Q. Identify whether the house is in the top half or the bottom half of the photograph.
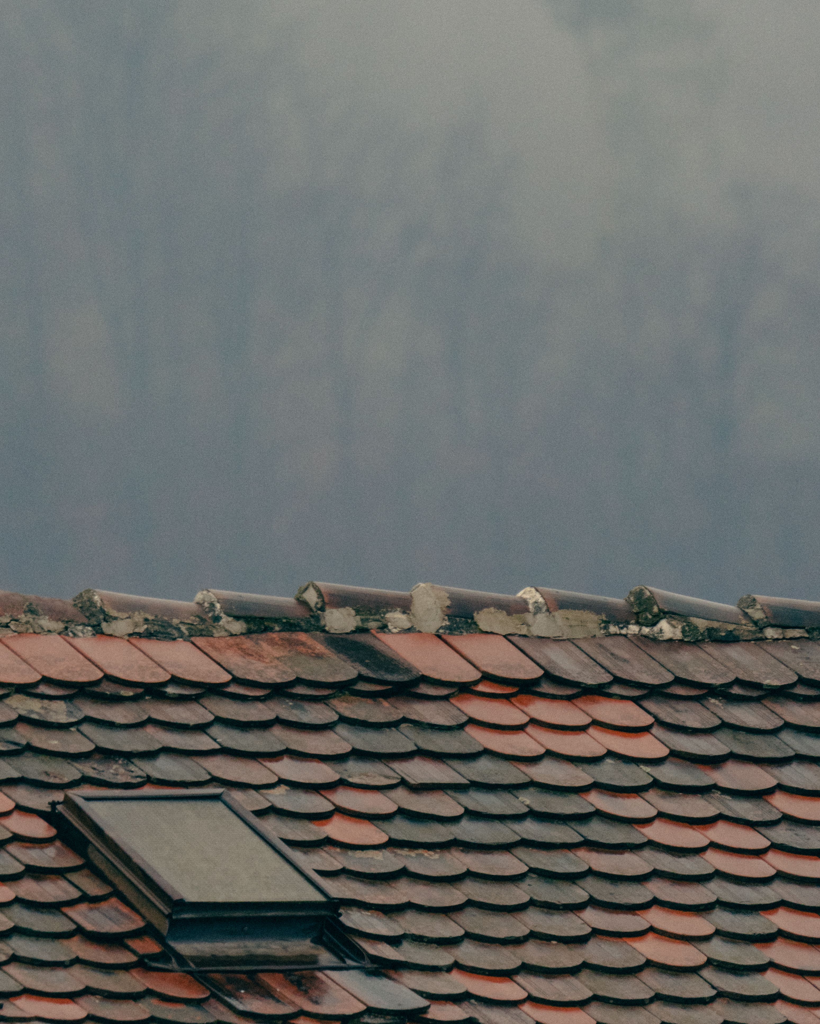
bottom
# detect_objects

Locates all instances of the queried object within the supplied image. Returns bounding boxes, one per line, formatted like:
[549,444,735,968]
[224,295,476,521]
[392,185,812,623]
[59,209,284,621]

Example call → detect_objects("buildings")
[0,582,820,1024]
